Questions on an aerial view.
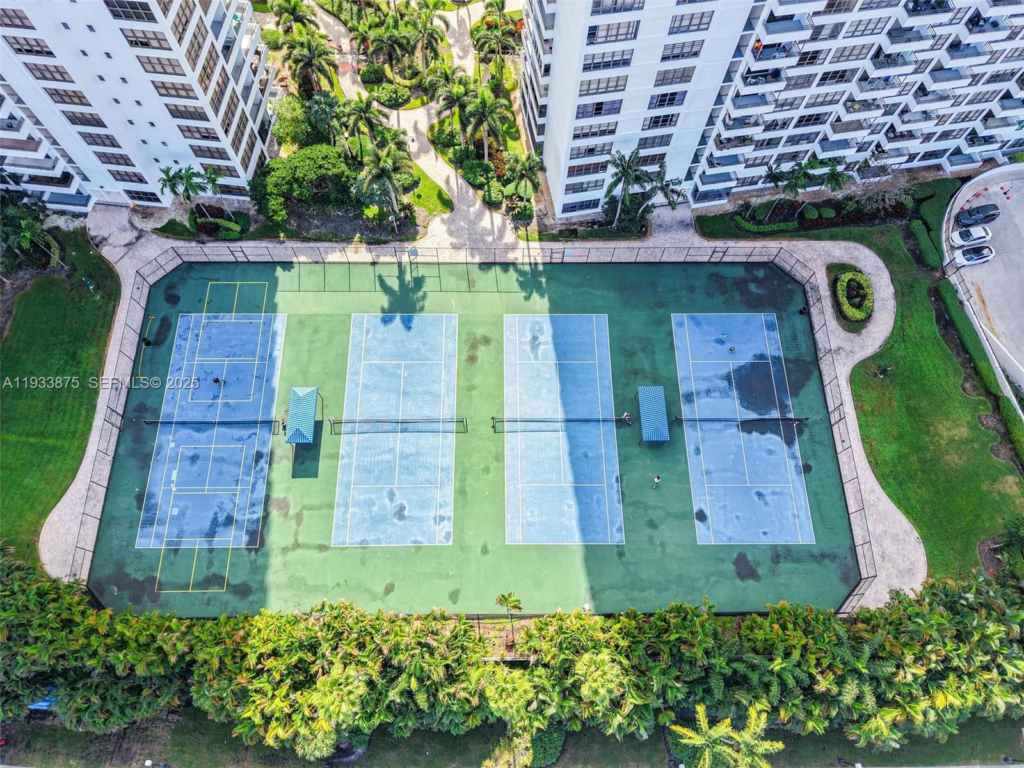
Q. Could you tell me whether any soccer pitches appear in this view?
No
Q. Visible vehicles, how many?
3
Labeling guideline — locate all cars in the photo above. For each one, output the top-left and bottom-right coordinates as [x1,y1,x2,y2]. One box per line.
[951,228,993,252]
[955,201,1003,231]
[952,245,997,271]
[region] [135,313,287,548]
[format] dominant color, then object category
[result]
blue tennis court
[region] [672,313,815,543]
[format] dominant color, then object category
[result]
blue tennis court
